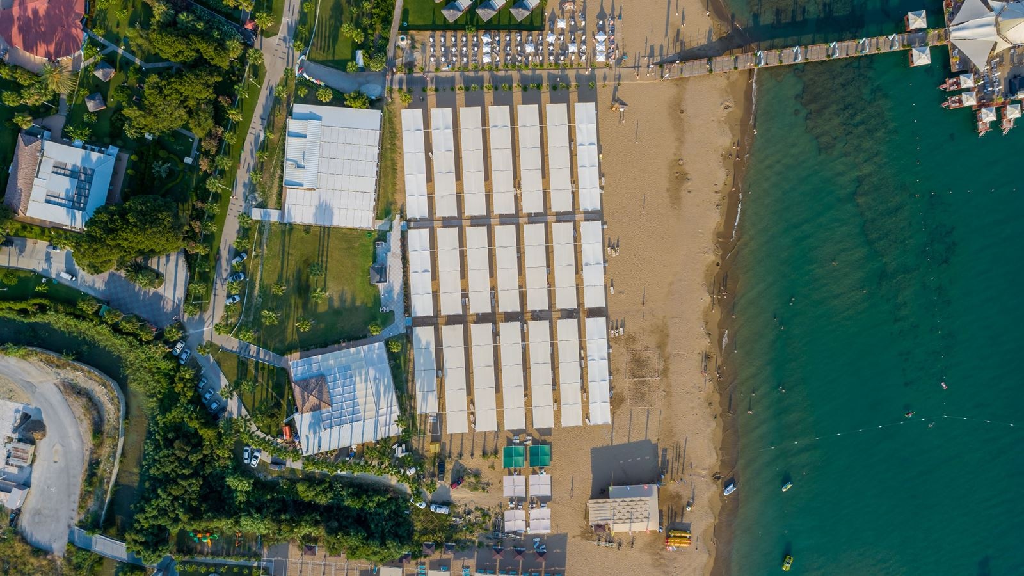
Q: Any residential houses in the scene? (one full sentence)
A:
Yes, a residential house is visible in the scene.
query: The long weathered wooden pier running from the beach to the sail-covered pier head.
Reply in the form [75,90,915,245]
[655,28,948,80]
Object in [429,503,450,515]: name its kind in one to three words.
vehicle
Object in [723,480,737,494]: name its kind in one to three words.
boat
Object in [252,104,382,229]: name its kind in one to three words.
building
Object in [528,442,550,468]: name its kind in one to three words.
tent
